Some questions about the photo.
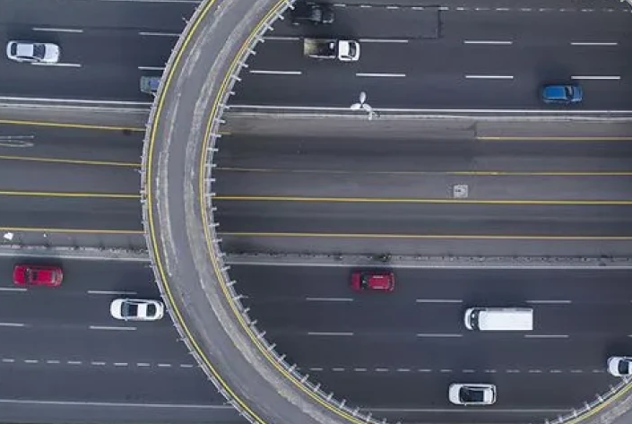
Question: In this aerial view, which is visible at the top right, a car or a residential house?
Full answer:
The one visible at the top right is a car.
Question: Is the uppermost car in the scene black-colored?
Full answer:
Yes, the uppermost car is black.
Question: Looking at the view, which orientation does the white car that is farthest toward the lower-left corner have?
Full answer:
The white car that is farthest toward the lower-left corner runs horizontally in the image.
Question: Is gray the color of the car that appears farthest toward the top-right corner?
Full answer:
No, the car that appears farthest toward the top-right corner is actually blue.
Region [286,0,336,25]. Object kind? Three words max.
car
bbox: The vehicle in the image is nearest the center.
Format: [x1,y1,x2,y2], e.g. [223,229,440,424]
[351,269,396,294]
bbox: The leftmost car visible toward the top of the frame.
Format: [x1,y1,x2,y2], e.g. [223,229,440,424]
[6,39,62,64]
